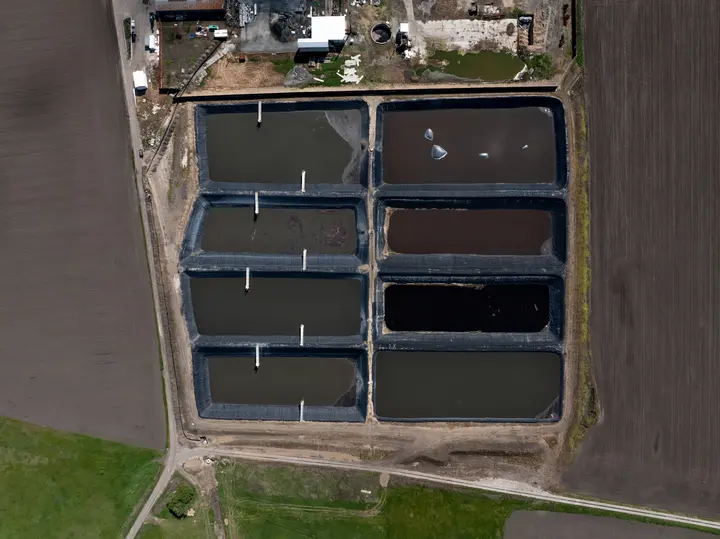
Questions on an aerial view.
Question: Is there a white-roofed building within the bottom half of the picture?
No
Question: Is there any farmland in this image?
Yes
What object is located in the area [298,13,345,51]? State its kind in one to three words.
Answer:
building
